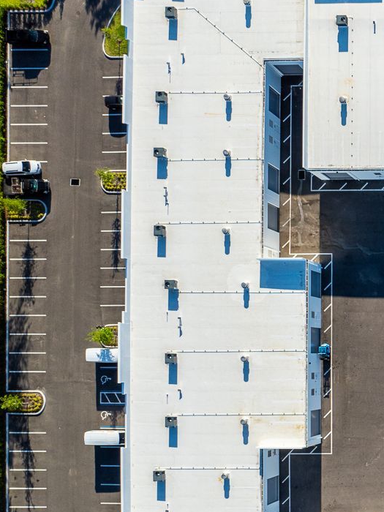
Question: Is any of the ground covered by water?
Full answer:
No, there is no water in the image.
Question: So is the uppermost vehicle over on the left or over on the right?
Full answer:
You can find the uppermost vehicle on the left side of the picture.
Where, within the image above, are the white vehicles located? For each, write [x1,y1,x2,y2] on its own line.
[88,347,118,362]
[3,159,43,176]
[87,429,126,446]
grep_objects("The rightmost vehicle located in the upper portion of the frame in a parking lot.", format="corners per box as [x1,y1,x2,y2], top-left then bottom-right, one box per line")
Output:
[105,96,125,111]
